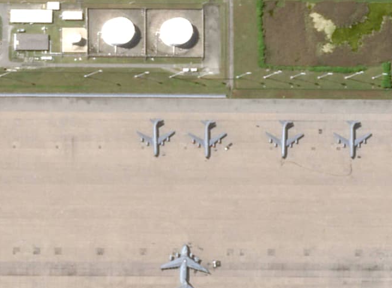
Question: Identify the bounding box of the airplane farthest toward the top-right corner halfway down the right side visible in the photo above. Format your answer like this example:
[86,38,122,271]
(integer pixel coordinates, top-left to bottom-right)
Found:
[333,121,372,159]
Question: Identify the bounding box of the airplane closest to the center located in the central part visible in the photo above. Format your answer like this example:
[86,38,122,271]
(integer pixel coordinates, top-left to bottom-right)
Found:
[188,121,227,160]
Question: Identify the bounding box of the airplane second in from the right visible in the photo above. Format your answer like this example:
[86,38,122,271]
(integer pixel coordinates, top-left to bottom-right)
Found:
[265,121,304,159]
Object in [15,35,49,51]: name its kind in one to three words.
building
